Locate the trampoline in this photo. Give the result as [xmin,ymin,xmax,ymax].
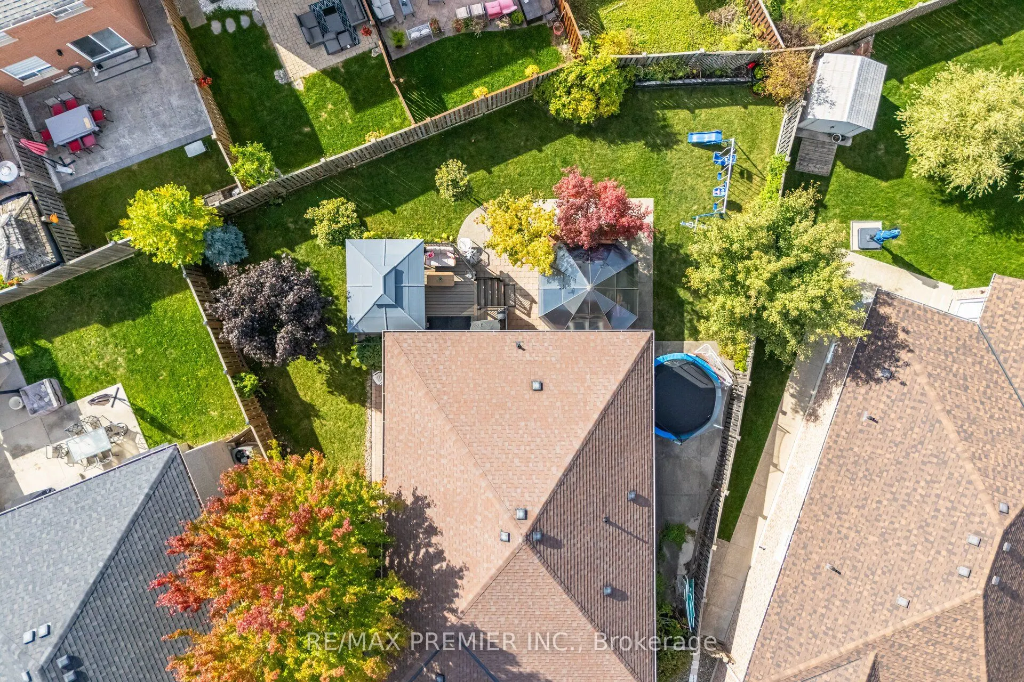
[656,354,727,448]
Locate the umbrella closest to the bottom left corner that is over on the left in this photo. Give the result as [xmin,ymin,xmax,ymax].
[84,387,121,408]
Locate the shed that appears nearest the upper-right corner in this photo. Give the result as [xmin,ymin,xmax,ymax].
[798,53,886,138]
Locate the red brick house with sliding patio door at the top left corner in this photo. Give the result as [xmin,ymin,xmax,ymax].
[0,0,156,96]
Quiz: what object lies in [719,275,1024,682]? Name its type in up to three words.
house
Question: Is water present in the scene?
No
